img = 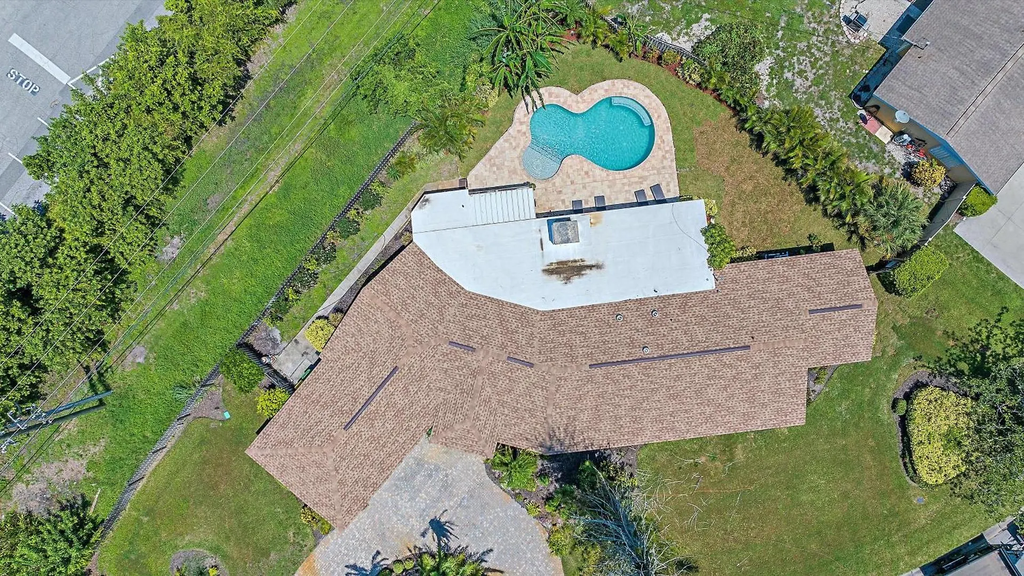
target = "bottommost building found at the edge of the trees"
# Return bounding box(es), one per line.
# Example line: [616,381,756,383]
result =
[245,181,877,530]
